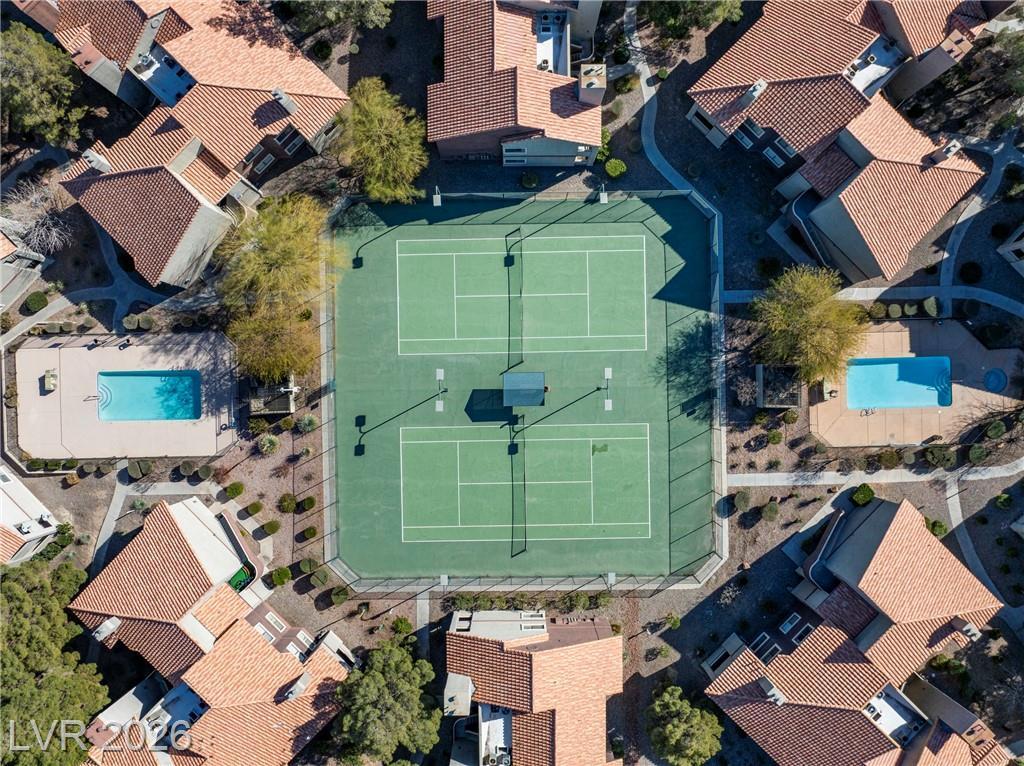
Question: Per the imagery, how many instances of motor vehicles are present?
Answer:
0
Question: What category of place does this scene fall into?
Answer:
residential area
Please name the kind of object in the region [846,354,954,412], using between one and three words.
swimming pool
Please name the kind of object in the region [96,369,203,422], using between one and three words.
swimming pool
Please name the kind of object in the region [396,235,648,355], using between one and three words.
tennis court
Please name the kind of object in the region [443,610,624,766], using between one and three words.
house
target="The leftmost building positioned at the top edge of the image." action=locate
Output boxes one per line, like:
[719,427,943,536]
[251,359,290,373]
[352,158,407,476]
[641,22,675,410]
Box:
[15,0,356,290]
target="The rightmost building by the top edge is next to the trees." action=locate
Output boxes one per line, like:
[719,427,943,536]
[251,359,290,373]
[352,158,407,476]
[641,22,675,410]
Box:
[677,0,991,284]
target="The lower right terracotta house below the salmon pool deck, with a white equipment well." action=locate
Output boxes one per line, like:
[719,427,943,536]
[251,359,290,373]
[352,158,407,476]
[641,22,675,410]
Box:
[692,498,1011,766]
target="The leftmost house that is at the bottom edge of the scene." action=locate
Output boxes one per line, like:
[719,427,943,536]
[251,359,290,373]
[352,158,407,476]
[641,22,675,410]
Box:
[68,495,362,766]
